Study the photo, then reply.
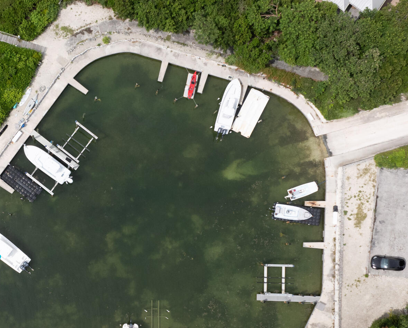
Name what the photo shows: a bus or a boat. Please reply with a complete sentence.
Of the two, only a boat appears.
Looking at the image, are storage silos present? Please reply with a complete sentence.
No, no storage silo is visible in the scene.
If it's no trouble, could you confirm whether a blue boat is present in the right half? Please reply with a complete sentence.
No, no blue boat is visible in the right half.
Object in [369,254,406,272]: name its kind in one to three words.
car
